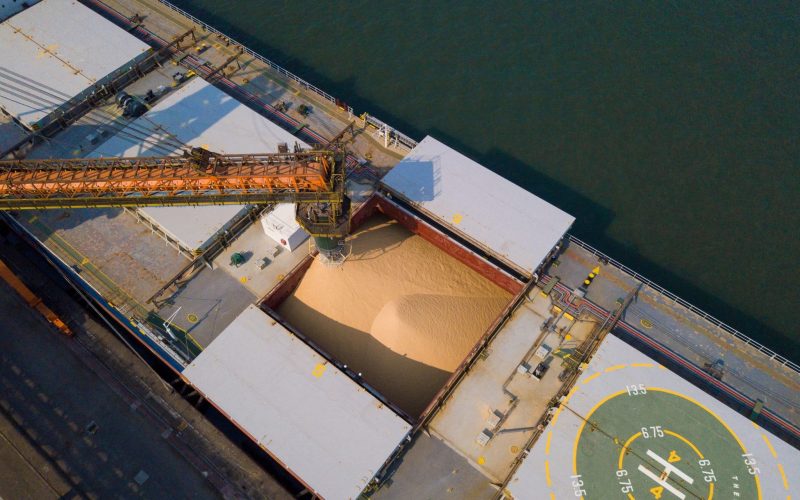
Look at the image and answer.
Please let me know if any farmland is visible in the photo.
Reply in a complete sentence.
No, the scene doesn't show any farmland.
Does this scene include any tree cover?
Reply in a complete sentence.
No, there's no tree cover in this view.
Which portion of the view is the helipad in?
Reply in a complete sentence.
Look in the bottom right portion of the view to spot the helipad.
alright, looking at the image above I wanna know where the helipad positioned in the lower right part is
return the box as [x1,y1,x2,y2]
[545,363,790,500]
